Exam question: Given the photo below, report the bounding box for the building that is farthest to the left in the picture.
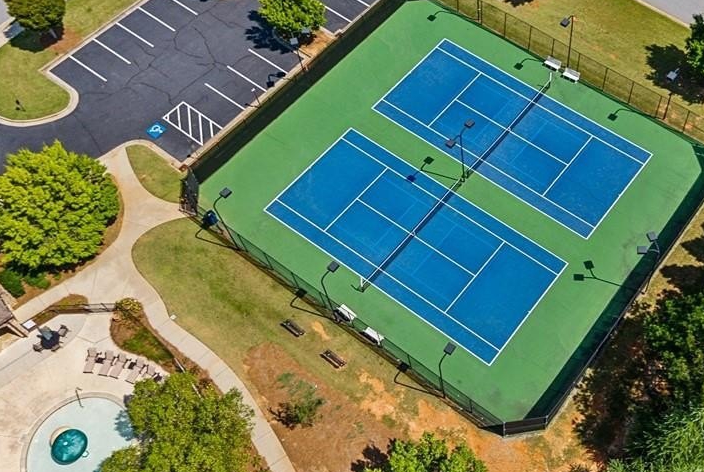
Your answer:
[0,294,28,351]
